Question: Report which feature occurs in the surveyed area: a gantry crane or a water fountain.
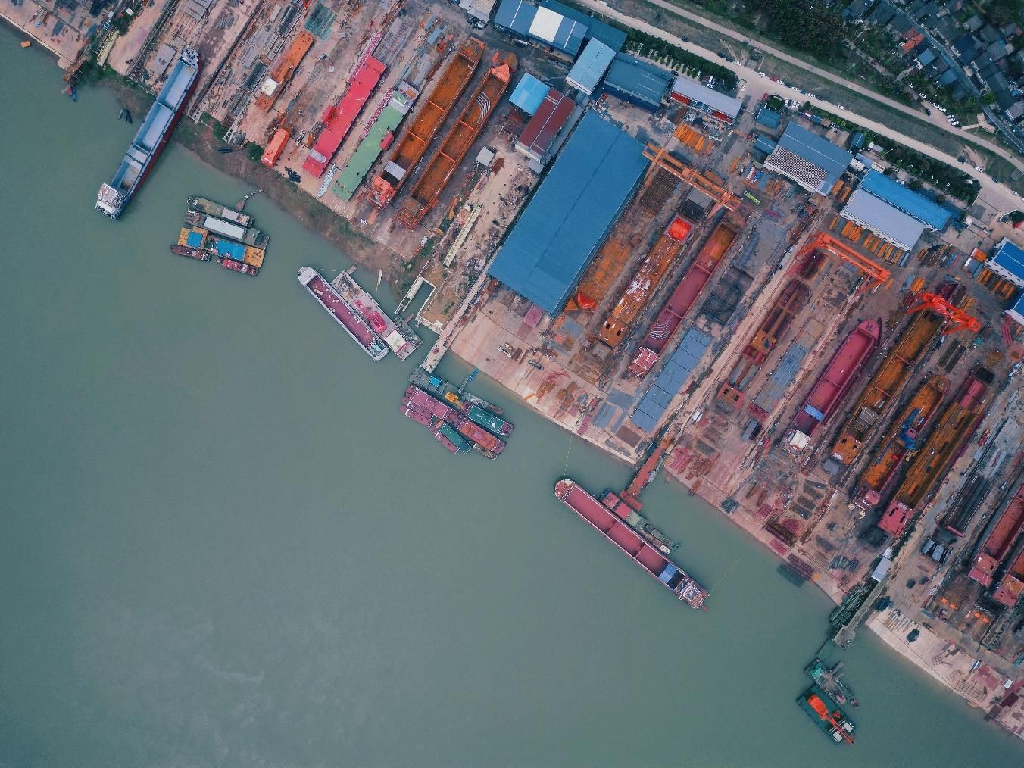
gantry crane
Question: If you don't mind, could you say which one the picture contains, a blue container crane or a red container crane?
red container crane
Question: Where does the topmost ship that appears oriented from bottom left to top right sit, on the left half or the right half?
left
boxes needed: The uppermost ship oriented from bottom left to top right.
[256,34,312,112]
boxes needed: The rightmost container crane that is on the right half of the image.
[904,288,980,339]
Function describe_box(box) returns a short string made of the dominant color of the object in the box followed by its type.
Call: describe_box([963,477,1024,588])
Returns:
red ship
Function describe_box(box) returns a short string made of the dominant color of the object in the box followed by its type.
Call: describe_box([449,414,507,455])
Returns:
red ship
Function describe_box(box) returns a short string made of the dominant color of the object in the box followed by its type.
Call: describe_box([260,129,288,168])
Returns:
red boat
